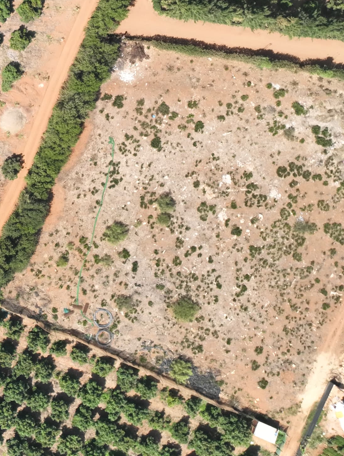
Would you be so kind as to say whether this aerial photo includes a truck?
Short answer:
No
